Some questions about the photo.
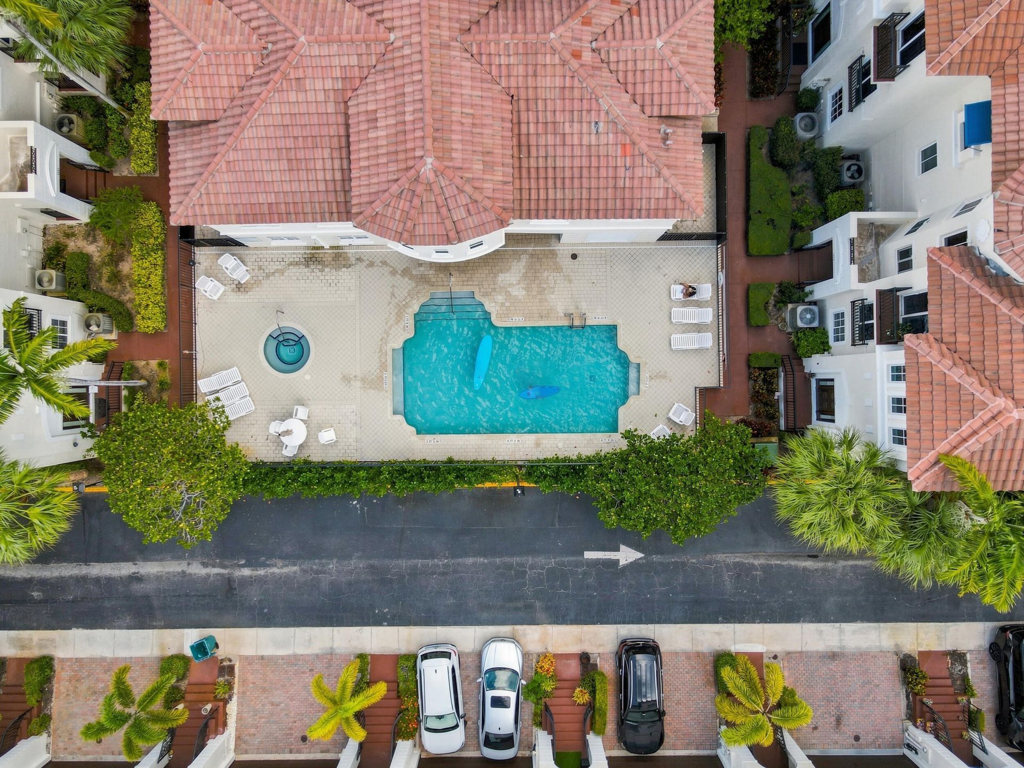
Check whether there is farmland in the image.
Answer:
No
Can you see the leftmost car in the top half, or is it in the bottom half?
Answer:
bottom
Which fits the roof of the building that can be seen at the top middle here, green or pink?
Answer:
pink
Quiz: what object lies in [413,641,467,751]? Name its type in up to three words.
car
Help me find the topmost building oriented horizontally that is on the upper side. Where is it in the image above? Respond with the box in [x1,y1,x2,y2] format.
[147,0,718,264]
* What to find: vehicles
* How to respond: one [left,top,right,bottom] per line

[614,638,668,750]
[990,630,1024,742]
[413,641,467,751]
[475,638,528,754]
